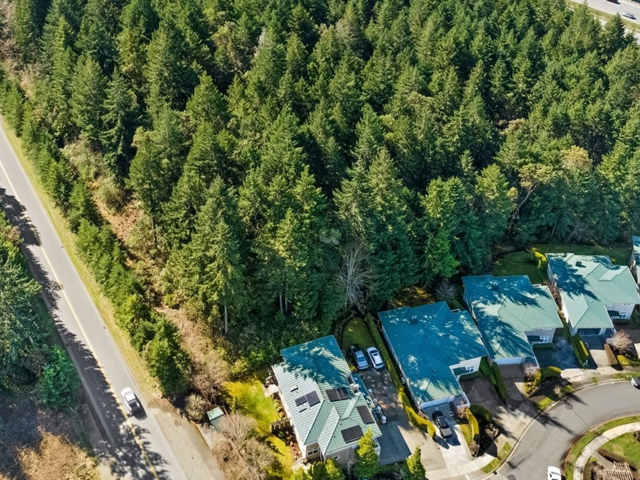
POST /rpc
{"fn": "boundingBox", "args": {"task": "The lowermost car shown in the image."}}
[543,464,560,480]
